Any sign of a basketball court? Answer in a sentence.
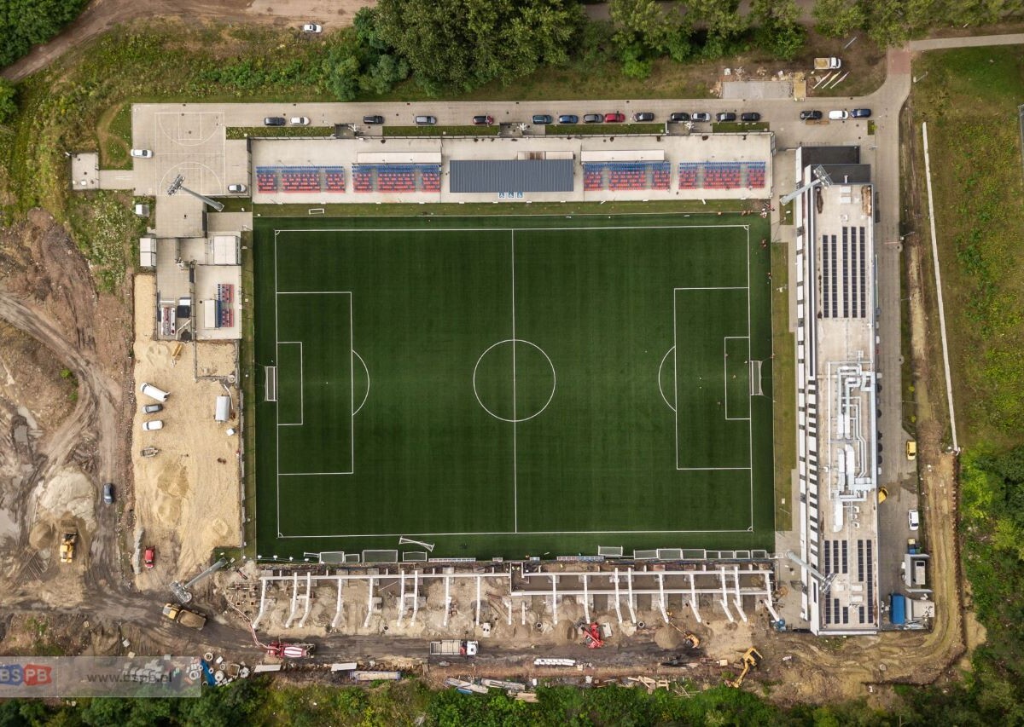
Yes, the photo shows a basketball court.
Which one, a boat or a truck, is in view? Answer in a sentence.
I can see a truck in this picture.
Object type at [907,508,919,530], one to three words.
vehicle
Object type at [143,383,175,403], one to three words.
vehicle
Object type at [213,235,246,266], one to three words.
shed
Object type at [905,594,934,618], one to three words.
shed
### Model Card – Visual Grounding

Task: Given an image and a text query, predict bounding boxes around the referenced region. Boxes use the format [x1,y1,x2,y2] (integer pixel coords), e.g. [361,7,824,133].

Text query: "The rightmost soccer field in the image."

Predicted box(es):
[255,211,775,561]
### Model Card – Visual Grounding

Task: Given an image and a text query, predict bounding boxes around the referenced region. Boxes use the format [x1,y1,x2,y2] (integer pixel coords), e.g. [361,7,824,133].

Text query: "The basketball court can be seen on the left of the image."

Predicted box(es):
[155,112,225,195]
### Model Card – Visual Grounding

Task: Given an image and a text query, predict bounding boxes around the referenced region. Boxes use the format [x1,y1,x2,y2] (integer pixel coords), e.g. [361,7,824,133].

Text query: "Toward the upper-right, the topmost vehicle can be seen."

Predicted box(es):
[812,57,840,70]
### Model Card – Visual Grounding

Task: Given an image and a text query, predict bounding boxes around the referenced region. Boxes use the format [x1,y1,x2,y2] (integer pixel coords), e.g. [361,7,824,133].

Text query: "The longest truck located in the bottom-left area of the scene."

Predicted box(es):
[228,601,314,659]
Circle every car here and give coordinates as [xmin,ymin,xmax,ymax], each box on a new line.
[142,420,165,430]
[907,508,919,530]
[474,114,493,125]
[363,115,384,125]
[904,438,917,461]
[559,114,578,124]
[633,111,655,122]
[605,112,624,123]
[583,114,603,123]
[826,109,849,120]
[264,115,287,126]
[415,114,437,125]
[103,482,114,504]
[799,109,822,120]
[532,113,553,125]
[131,148,154,159]
[228,183,248,193]
[690,111,712,122]
[849,107,872,118]
[142,403,165,414]
[668,111,690,122]
[739,111,761,122]
[290,115,309,126]
[714,111,737,122]
[303,23,323,34]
